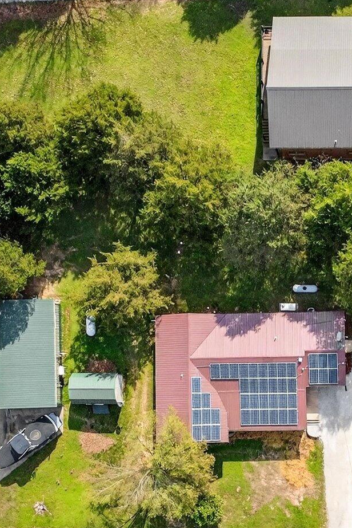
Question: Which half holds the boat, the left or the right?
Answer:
left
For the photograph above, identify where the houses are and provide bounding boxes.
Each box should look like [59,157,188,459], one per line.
[267,16,352,159]
[155,312,345,442]
[0,299,66,409]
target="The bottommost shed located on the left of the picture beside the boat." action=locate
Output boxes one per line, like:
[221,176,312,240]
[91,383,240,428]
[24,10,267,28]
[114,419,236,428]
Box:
[67,372,125,413]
